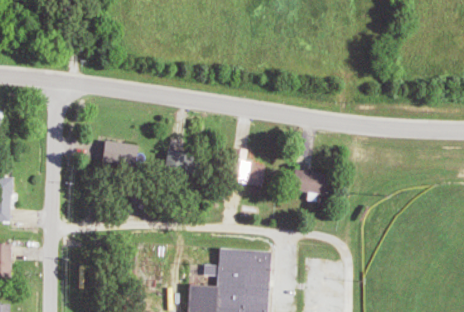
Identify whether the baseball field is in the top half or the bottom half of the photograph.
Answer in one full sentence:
The baseball field sits in the bottom half of the picture.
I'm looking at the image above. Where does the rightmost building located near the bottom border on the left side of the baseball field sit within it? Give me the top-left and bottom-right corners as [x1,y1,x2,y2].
[188,249,272,312]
